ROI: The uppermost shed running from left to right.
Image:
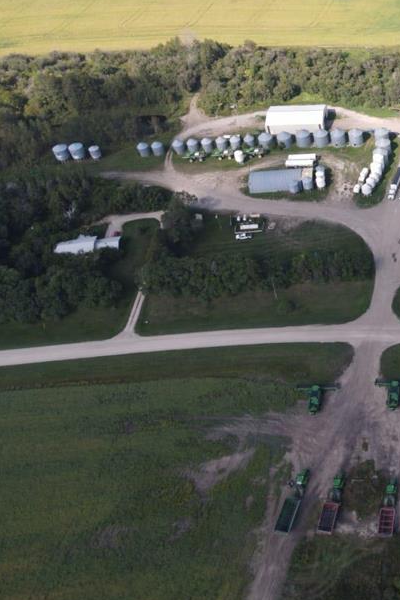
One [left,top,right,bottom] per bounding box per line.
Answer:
[264,104,329,137]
